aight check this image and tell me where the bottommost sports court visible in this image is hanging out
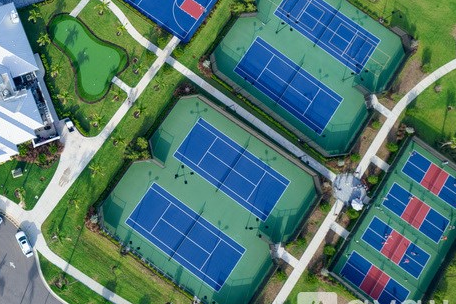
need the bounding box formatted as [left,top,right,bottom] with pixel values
[336,248,414,304]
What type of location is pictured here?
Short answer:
sports ground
